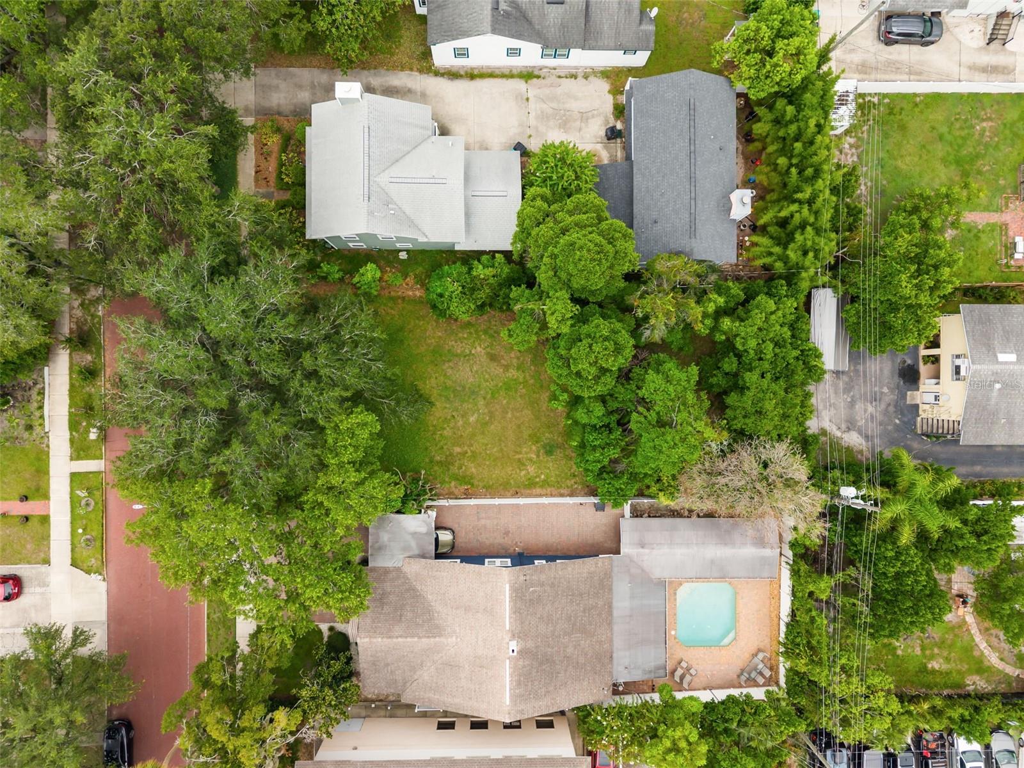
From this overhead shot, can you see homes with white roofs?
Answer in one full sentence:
Yes, I can see a home with a white roof in this picture.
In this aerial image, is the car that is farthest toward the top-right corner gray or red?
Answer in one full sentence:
In this view, the car that is farthest toward the top-right corner is gray.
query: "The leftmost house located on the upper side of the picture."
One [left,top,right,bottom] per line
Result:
[305,81,520,253]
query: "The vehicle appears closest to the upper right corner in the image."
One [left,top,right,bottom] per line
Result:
[883,11,947,45]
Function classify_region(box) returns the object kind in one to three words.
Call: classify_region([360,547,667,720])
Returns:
house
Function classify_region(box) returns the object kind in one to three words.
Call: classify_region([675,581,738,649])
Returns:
swimming pool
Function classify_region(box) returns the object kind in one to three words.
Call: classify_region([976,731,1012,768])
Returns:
car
